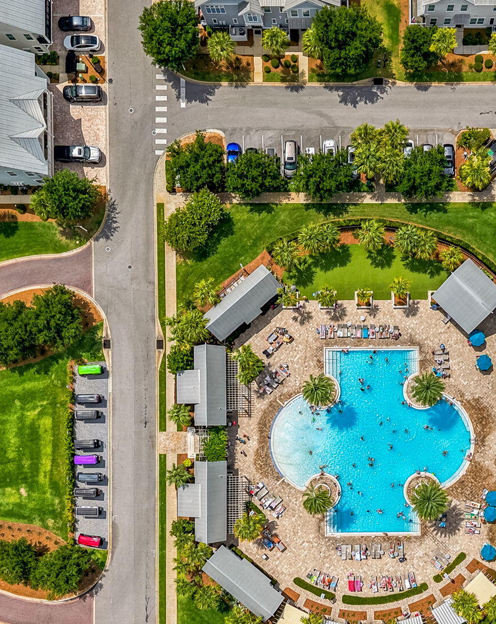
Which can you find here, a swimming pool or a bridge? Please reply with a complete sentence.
This aerial view contains a swimming pool.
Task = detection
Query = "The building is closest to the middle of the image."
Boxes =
[206,265,282,341]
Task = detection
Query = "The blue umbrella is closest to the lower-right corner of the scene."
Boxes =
[480,543,496,563]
